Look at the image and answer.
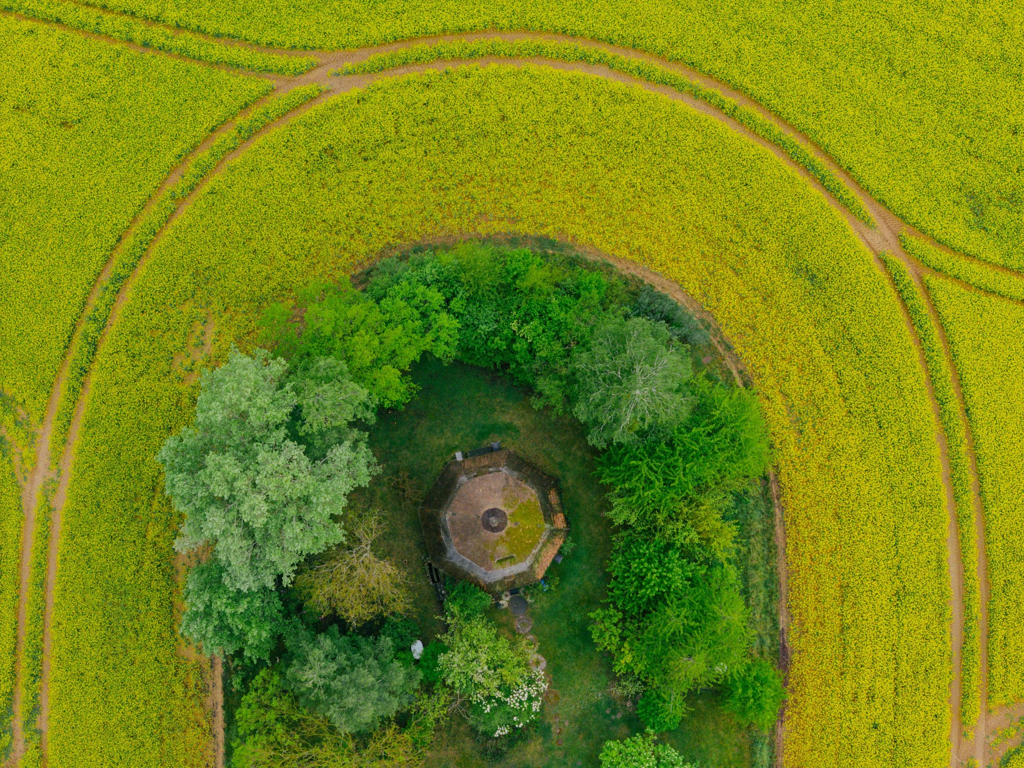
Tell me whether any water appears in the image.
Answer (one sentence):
No, the scene doesn't show any water.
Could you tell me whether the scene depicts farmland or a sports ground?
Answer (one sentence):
What you see here is farmland.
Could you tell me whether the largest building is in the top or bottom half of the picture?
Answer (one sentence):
You can find the largest building in the bottom half.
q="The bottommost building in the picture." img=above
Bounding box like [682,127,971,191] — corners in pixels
[419,450,570,592]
